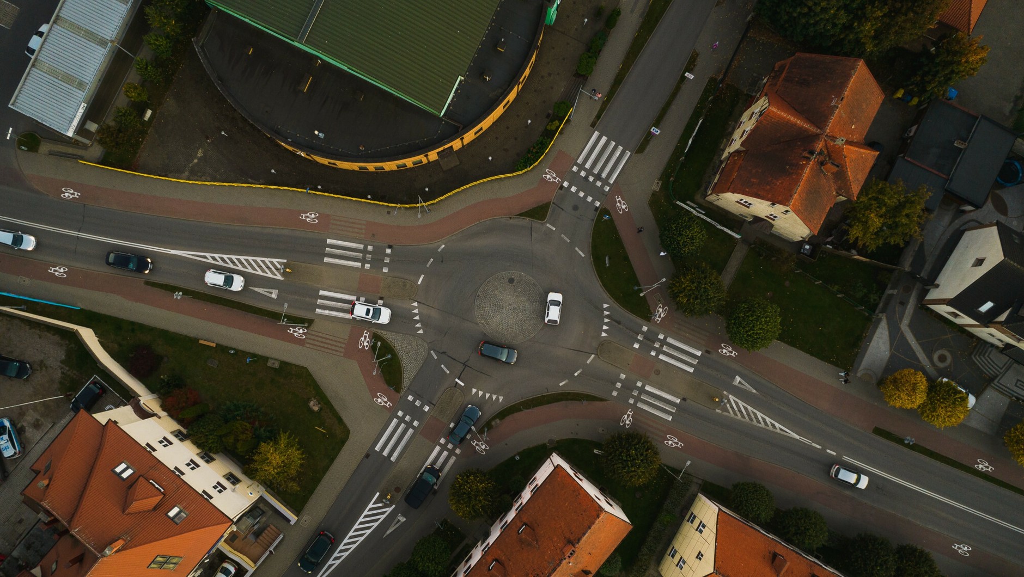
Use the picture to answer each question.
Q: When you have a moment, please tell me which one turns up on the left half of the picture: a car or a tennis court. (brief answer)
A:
car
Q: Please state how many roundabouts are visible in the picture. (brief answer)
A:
one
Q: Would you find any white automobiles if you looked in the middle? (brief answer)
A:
Yes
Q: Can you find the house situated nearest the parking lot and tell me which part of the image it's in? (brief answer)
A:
bottom left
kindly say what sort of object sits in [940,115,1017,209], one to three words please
building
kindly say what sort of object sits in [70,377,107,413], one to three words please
car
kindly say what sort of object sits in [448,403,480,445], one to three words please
car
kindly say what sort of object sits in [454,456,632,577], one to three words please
house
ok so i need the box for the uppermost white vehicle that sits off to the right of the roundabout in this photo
[545,292,563,325]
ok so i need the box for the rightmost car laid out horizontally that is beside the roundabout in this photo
[477,341,518,364]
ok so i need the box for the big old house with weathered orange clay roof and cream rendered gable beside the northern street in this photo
[708,53,884,237]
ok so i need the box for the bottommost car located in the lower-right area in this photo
[828,463,868,489]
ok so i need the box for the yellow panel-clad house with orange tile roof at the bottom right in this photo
[659,494,844,577]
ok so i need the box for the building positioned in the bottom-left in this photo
[21,403,259,577]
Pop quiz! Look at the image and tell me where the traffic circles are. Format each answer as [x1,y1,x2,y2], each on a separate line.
[475,272,546,343]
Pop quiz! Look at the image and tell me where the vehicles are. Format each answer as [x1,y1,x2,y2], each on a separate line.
[448,403,480,445]
[211,555,238,577]
[203,270,247,291]
[0,416,24,461]
[867,135,888,171]
[301,529,333,573]
[70,377,107,413]
[0,353,30,377]
[405,462,440,512]
[106,252,155,274]
[545,292,563,325]
[350,301,393,323]
[0,230,38,251]
[828,463,868,489]
[22,21,46,58]
[477,341,518,364]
